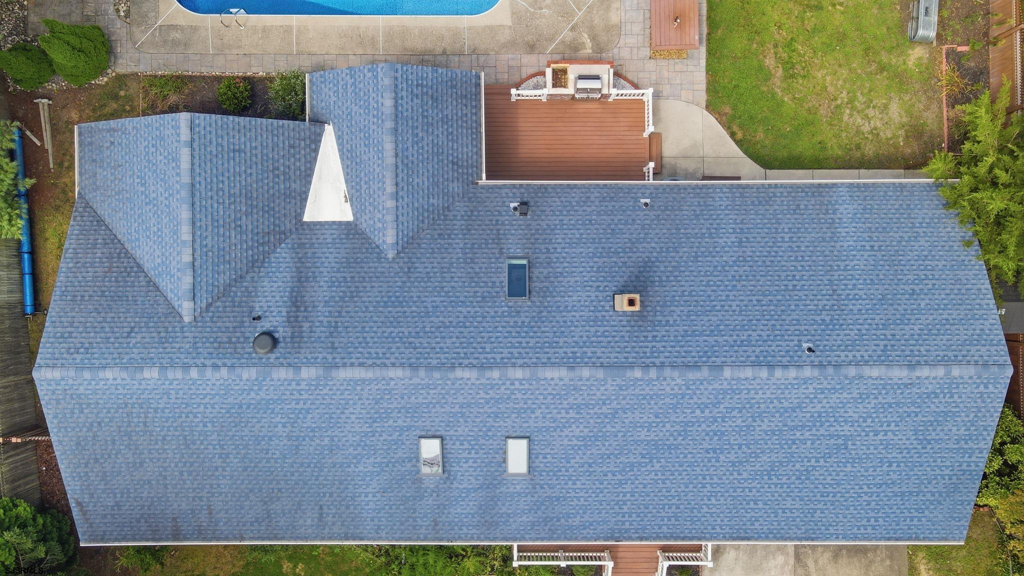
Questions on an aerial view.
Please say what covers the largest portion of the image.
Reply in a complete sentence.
What you mostly see from above here is buildings.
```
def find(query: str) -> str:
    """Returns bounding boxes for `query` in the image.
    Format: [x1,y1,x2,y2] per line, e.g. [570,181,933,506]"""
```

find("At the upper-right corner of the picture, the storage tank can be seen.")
[908,0,940,51]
